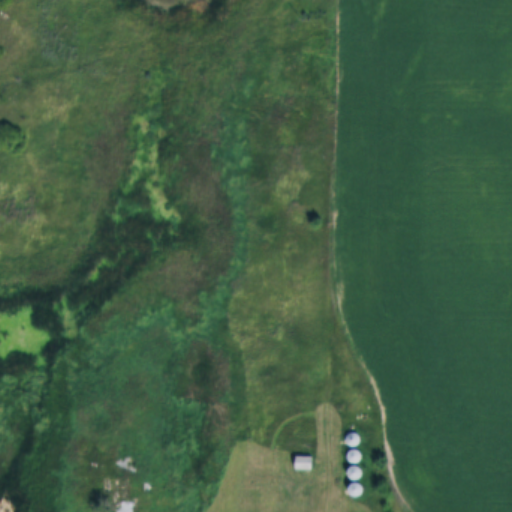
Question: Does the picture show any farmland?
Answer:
Yes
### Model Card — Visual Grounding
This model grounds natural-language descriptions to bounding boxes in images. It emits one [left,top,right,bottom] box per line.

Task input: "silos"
[347,466,362,482]
[346,432,361,448]
[346,449,362,465]
[347,482,363,499]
